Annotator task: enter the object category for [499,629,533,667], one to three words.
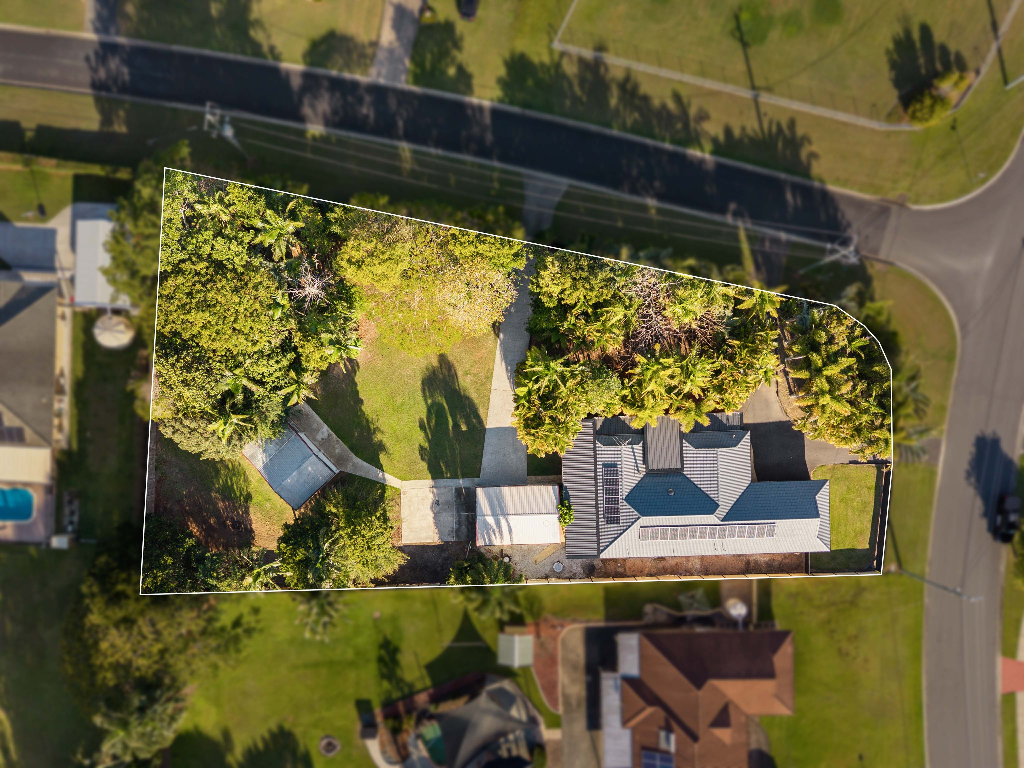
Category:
shed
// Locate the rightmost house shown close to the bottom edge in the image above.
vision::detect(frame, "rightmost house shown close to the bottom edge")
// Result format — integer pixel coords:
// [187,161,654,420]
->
[601,627,794,768]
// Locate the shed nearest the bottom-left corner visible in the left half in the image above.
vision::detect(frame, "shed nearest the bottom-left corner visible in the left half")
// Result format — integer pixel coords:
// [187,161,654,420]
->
[50,533,76,550]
